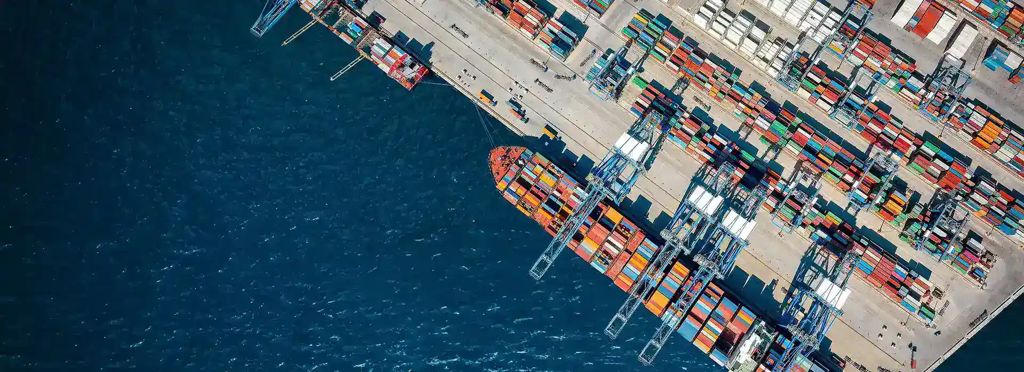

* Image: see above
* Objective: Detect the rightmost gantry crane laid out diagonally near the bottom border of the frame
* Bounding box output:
[768,252,865,372]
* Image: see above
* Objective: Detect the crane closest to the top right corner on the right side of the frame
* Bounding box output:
[915,62,978,125]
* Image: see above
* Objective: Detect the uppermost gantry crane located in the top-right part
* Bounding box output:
[822,0,880,61]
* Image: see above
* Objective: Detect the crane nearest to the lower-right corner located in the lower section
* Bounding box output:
[911,202,975,261]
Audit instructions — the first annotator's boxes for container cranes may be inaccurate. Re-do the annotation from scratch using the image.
[634,186,773,368]
[768,176,824,234]
[601,163,738,342]
[915,62,978,125]
[250,0,290,41]
[589,44,638,103]
[822,0,880,61]
[827,69,886,130]
[527,110,663,283]
[842,152,901,212]
[775,33,830,94]
[911,202,975,261]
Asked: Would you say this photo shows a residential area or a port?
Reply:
port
